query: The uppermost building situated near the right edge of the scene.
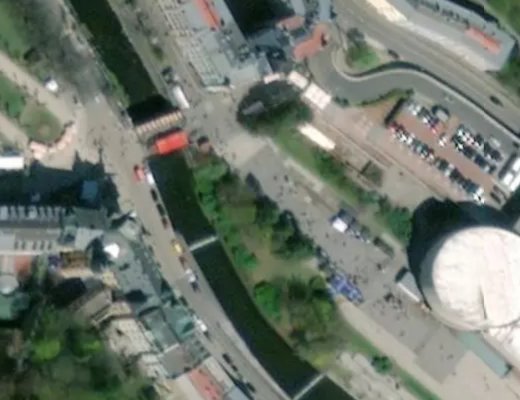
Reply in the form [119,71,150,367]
[390,0,517,76]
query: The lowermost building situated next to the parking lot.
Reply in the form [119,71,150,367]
[424,226,520,337]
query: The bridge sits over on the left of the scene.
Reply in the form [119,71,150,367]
[129,107,193,162]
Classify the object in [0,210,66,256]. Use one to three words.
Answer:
building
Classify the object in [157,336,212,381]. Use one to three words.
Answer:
house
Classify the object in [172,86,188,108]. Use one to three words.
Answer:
vehicle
